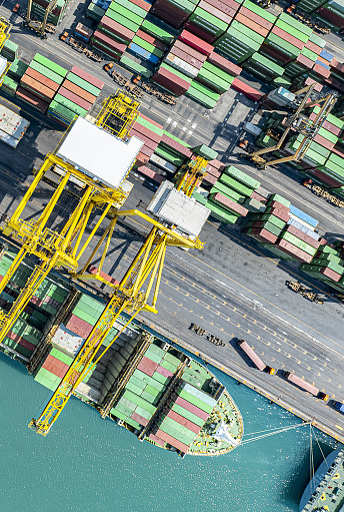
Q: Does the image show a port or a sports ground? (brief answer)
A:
port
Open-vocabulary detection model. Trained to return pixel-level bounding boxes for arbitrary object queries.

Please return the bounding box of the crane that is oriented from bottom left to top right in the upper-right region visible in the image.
[245,81,343,168]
